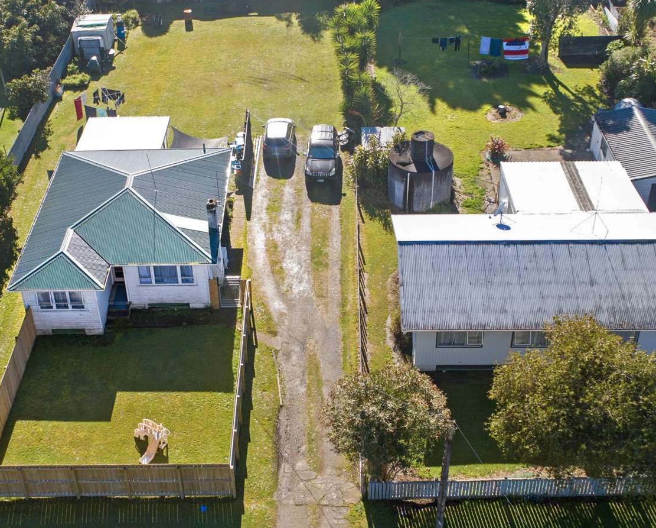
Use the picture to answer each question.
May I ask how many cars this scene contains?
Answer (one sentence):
In total, 2 cars can be seen.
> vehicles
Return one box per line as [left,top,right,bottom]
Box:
[262,116,296,159]
[301,123,339,183]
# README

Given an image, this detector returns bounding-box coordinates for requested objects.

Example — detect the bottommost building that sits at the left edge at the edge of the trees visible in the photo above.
[8,145,232,333]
